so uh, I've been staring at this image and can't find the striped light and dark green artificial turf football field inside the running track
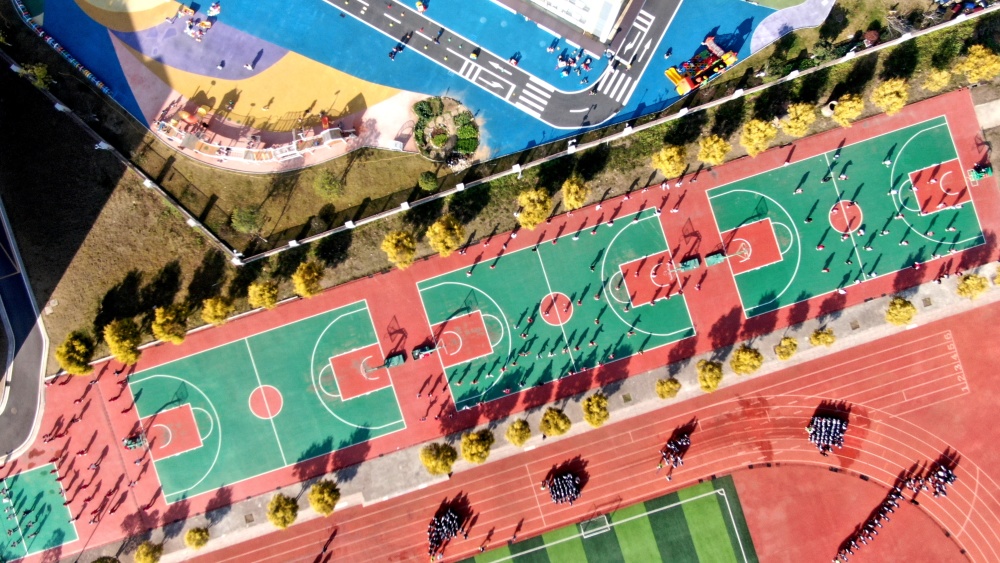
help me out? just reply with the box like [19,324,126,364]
[455,474,760,563]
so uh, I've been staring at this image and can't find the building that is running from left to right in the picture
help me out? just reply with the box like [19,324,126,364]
[520,0,623,44]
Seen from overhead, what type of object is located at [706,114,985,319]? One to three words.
basketball court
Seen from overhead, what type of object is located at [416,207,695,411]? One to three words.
basketball court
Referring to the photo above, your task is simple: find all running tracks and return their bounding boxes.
[180,303,1000,563]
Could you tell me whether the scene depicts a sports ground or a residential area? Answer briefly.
sports ground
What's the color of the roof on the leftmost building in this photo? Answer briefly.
white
